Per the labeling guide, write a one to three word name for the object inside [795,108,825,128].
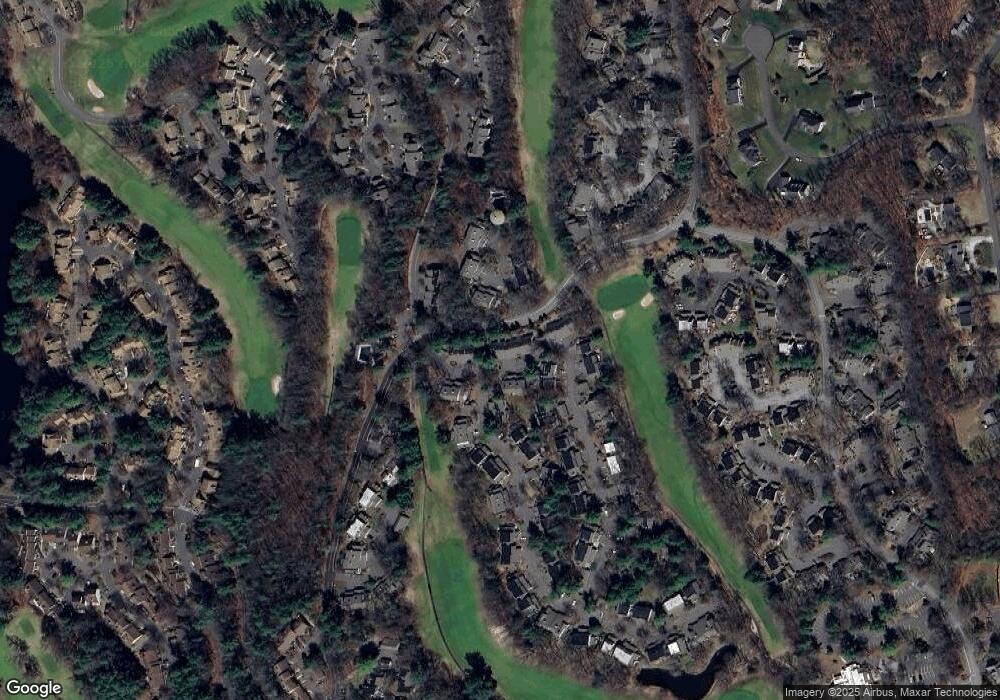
house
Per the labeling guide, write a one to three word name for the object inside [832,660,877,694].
building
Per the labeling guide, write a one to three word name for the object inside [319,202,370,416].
golf course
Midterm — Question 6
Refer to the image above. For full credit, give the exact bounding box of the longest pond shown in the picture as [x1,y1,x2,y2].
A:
[637,643,738,699]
